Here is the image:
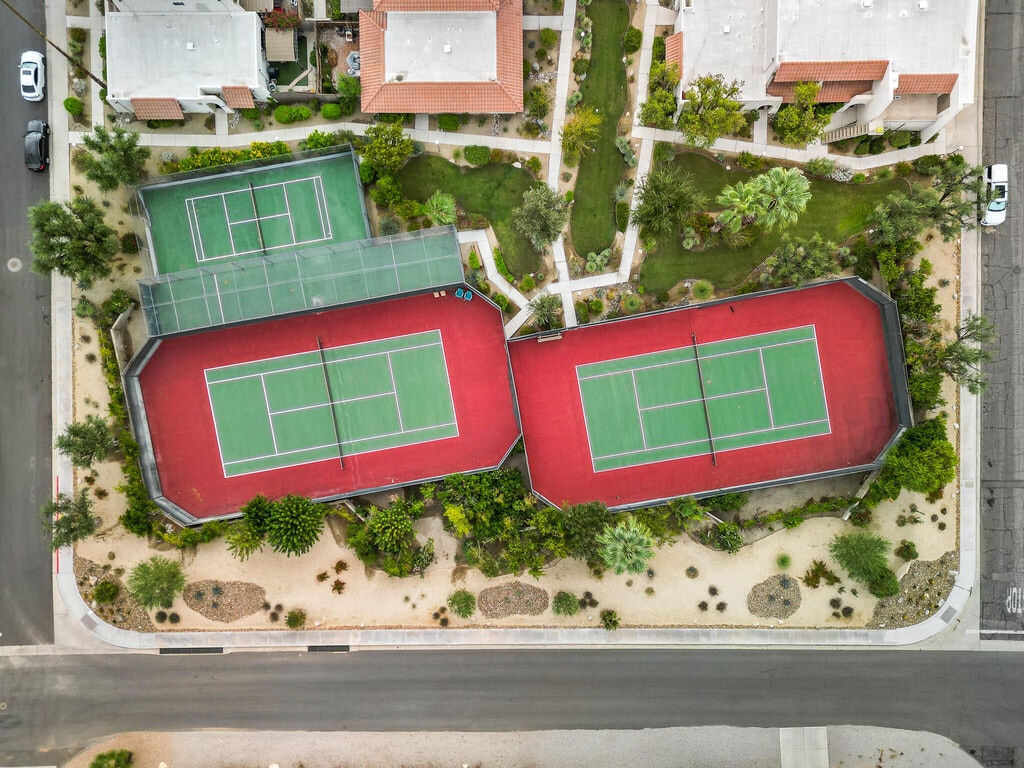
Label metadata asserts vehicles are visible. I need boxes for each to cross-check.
[18,53,46,101]
[21,122,49,170]
[979,167,1009,227]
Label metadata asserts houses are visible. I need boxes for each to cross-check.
[768,0,975,147]
[107,13,270,119]
[360,0,524,116]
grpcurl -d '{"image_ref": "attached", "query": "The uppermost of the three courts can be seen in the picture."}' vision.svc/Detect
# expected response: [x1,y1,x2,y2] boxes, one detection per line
[141,153,465,334]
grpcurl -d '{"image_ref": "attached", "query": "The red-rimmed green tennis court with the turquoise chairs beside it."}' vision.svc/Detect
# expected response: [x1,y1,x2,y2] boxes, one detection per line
[138,287,520,519]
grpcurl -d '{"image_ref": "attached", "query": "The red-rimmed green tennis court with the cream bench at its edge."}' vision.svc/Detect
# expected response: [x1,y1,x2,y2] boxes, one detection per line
[510,282,900,514]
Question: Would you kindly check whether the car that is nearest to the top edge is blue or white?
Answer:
white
